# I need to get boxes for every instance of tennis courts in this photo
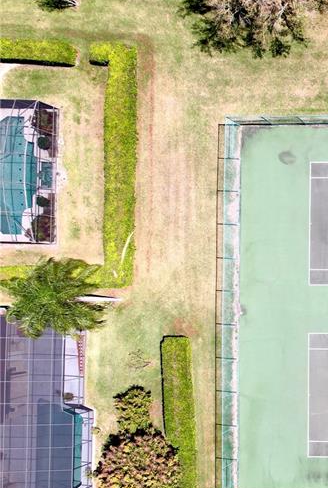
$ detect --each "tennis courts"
[233,312,328,488]
[233,124,328,312]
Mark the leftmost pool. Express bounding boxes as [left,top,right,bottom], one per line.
[0,117,34,234]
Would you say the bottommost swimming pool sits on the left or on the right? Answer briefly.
left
